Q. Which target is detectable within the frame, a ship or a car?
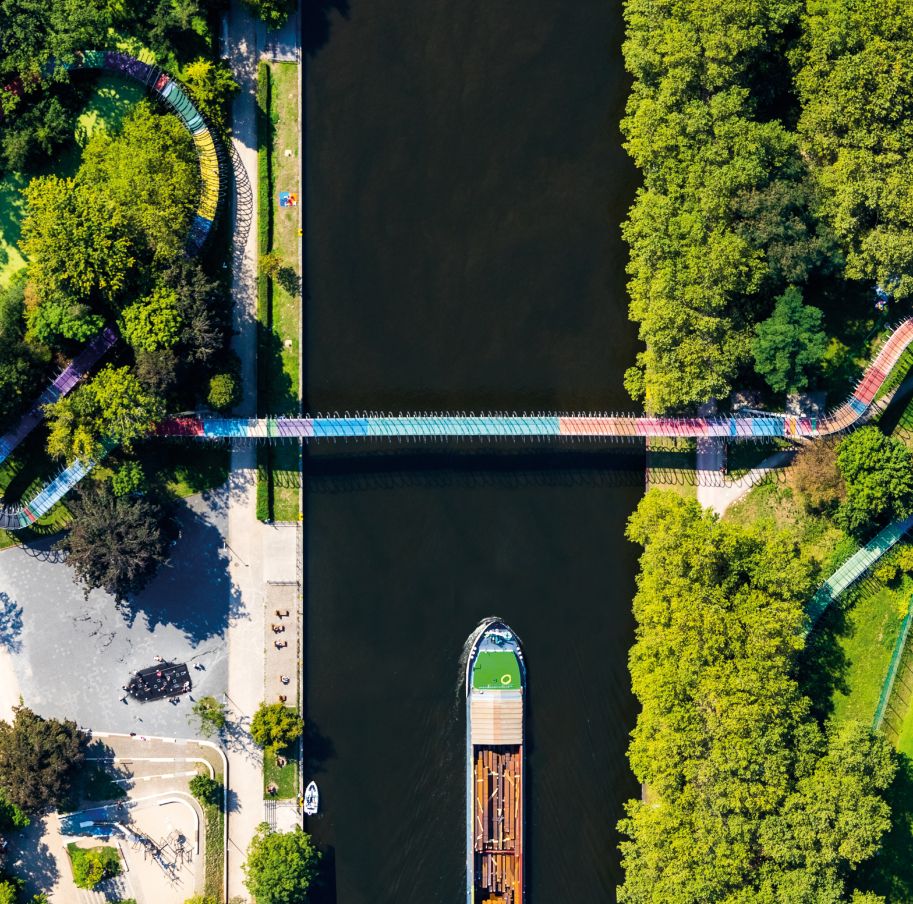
ship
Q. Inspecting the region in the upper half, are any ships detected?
No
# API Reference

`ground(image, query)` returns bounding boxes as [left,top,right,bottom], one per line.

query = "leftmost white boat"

[299,779,318,816]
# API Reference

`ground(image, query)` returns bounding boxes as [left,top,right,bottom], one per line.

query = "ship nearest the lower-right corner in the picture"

[466,620,527,904]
